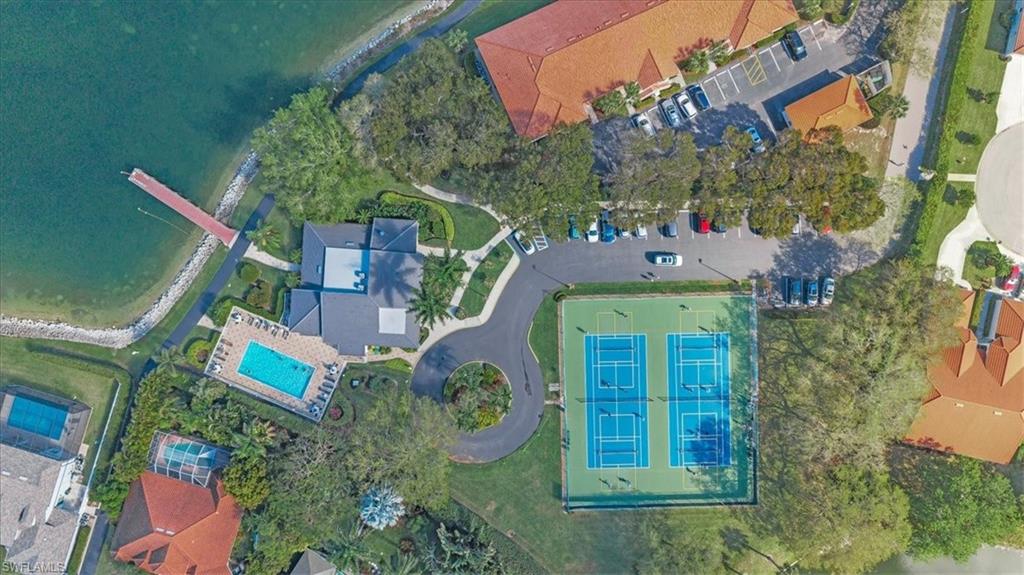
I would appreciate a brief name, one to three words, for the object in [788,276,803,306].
car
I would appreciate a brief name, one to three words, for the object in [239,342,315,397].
swimming pool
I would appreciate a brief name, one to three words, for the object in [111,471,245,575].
house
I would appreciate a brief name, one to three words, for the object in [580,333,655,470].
tennis court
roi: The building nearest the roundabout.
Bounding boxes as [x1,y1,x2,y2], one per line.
[279,218,423,359]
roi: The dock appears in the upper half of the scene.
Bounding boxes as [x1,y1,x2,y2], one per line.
[120,168,238,247]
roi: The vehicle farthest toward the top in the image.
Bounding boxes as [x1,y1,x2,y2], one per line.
[784,30,805,60]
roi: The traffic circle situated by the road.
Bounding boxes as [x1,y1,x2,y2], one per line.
[443,361,512,430]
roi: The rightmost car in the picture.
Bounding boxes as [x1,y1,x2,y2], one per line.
[1000,266,1020,293]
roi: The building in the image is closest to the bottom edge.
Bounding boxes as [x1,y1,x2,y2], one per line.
[288,544,339,575]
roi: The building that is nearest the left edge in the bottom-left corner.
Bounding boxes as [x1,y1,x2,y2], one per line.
[0,441,86,575]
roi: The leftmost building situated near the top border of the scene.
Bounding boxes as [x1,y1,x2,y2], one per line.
[474,0,799,139]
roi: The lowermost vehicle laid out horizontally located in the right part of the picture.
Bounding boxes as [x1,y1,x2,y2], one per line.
[653,253,681,266]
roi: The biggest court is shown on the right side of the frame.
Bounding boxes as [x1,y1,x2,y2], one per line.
[563,296,753,506]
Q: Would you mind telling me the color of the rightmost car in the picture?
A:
red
